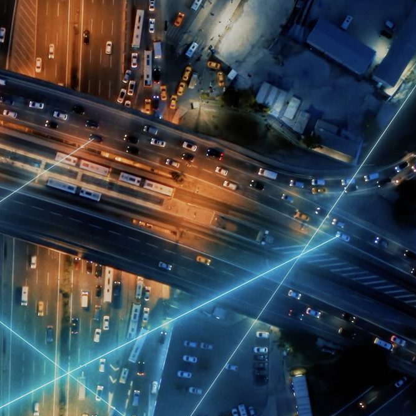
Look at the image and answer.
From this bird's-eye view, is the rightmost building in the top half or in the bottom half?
top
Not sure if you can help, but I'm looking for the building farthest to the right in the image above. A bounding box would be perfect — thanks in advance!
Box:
[367,0,416,93]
